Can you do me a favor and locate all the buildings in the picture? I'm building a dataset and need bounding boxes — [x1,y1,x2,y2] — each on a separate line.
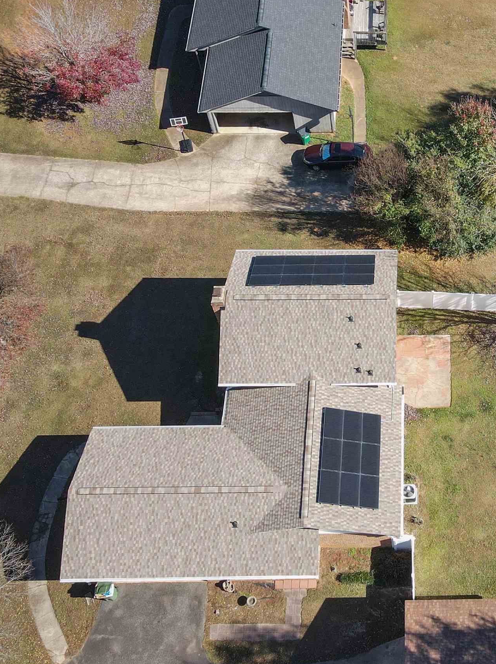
[405,598,496,664]
[185,0,352,131]
[60,248,407,589]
